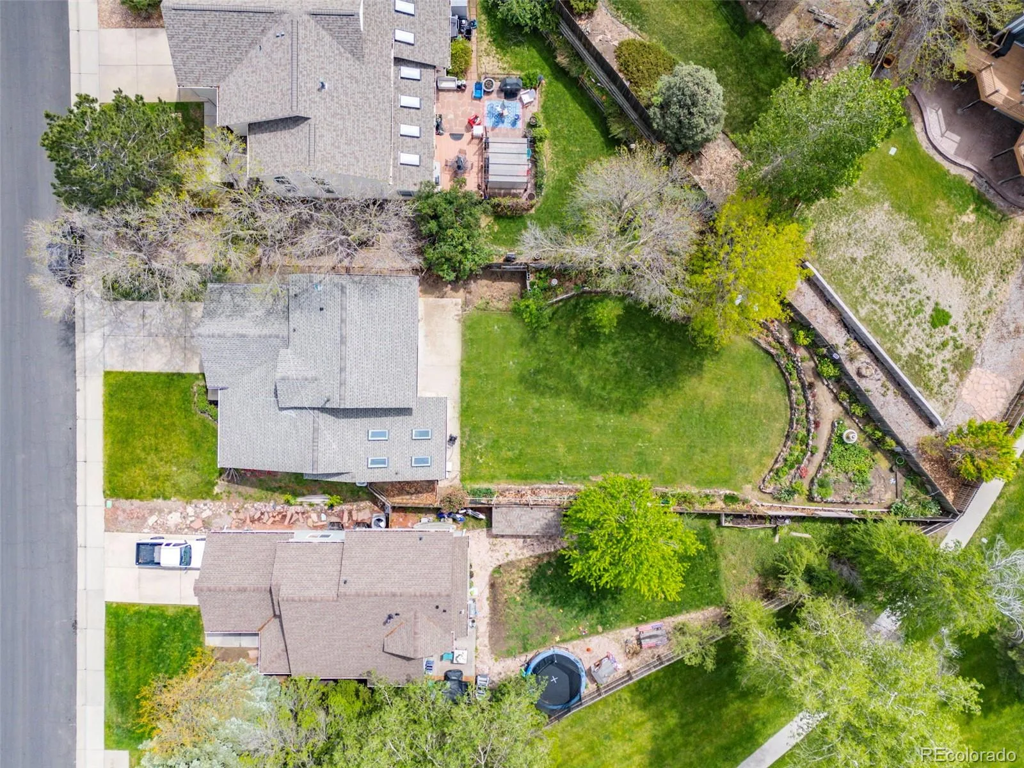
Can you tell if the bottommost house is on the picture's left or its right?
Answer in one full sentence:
The bottommost house appears in the left half of the scene.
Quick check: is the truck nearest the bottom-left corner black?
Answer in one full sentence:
No, the truck nearest the bottom-left corner is actually white.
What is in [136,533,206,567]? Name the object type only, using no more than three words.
truck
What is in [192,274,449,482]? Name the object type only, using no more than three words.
house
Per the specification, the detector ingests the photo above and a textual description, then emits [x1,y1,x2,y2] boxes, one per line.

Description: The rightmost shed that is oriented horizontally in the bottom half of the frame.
[492,503,564,536]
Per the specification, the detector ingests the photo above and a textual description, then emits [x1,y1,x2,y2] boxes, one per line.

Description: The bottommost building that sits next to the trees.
[192,527,471,688]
